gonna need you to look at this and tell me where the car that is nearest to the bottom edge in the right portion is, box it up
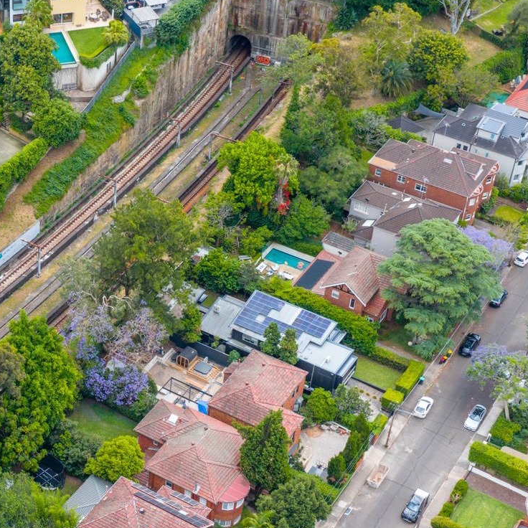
[402,479,439,526]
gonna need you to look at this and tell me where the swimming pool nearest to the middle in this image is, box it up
[254,237,317,276]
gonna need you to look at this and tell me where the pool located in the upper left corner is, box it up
[48,29,75,66]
